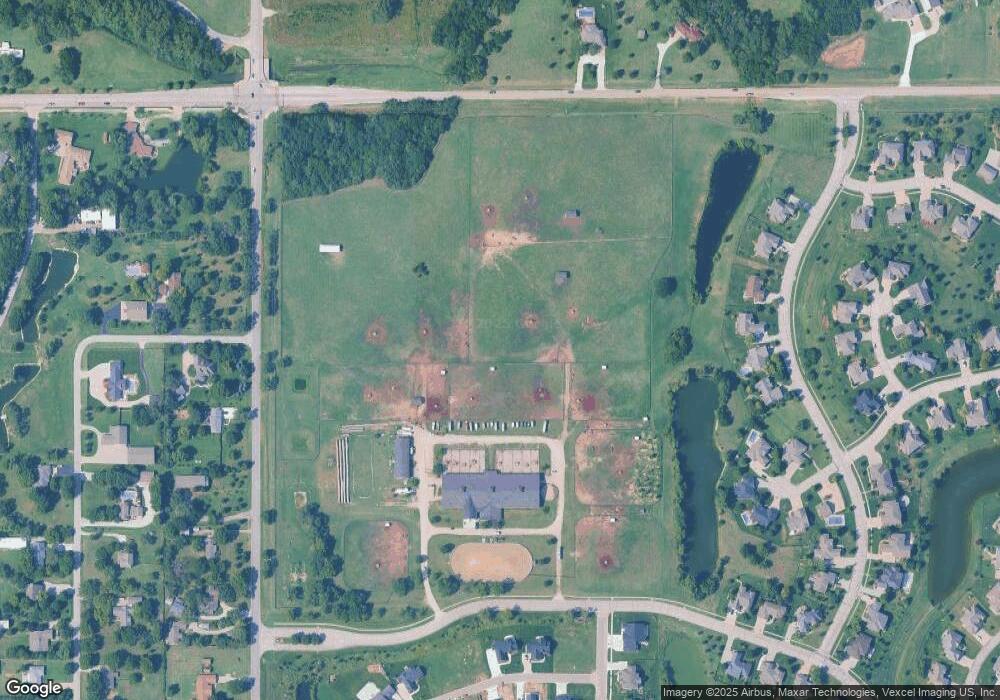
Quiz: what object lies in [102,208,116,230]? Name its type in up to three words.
shed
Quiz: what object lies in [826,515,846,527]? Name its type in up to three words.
swimming pool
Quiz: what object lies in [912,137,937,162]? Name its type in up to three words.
house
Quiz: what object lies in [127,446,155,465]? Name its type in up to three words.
barn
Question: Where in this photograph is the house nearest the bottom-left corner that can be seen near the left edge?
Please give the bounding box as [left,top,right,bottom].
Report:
[21,666,44,685]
